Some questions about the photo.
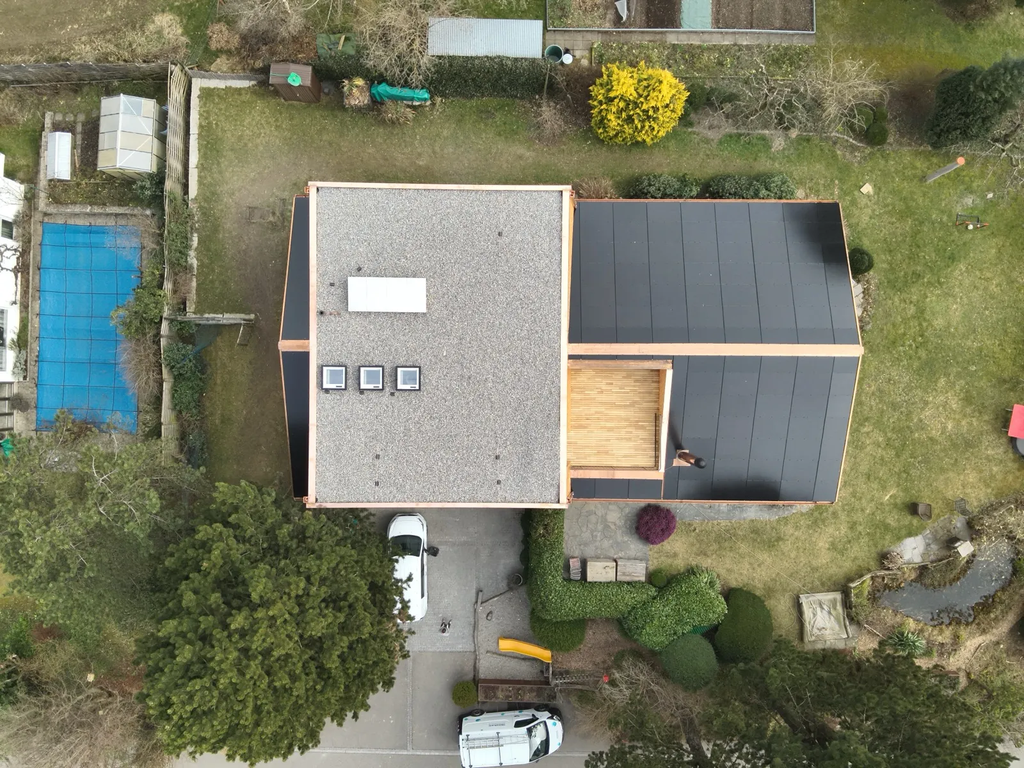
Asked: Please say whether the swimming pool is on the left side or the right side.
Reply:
left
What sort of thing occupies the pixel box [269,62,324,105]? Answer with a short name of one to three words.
shed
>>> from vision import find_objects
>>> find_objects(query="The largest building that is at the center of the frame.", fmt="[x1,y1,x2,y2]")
[276,182,866,508]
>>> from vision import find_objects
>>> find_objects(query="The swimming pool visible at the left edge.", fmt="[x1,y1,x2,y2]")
[32,222,145,433]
